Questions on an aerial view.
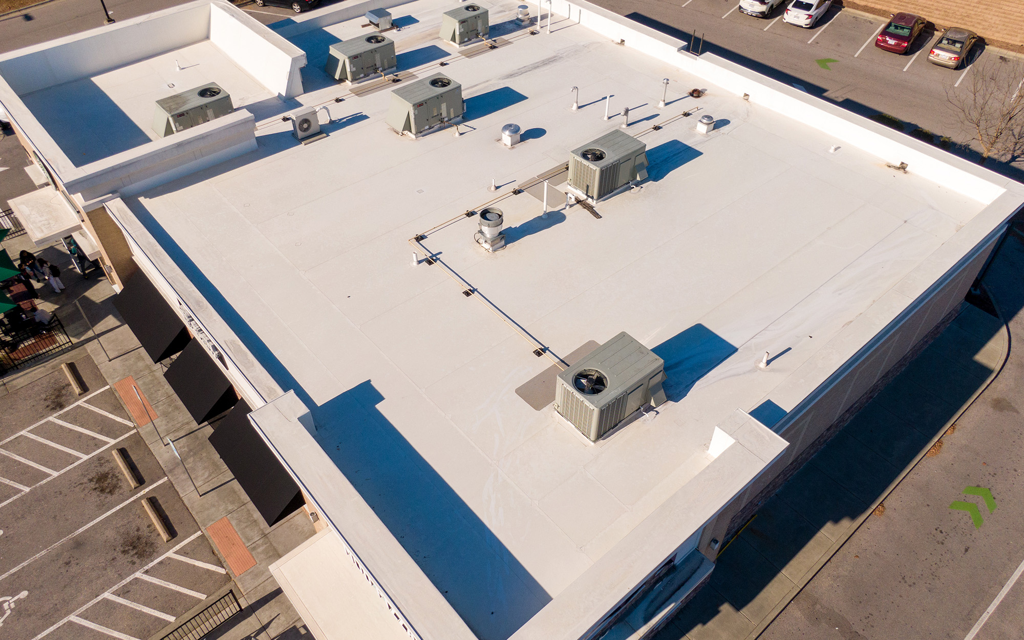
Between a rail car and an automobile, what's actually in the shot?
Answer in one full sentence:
Looking from above, you can make out an automobile.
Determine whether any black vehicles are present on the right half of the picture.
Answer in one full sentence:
No, there is no black vehicle on the right half of the picture.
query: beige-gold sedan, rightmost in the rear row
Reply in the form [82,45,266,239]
[930,27,980,66]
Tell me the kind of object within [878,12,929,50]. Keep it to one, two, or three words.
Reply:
car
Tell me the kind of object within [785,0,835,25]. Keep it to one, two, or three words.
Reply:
car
